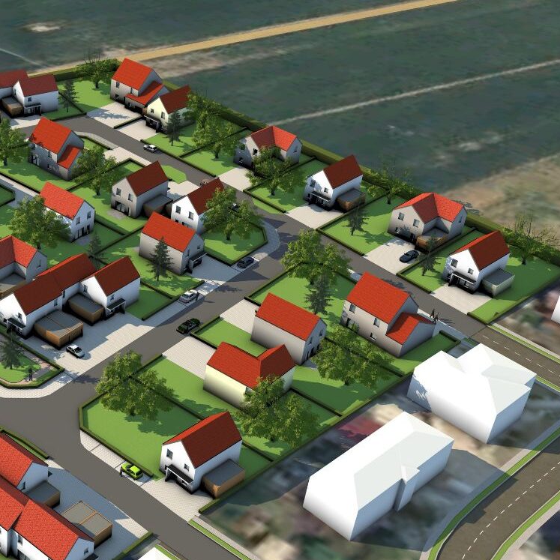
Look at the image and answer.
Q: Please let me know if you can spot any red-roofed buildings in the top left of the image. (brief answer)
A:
Yes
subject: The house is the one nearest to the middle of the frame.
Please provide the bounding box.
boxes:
[247,293,327,364]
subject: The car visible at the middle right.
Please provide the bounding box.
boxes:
[397,250,422,262]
